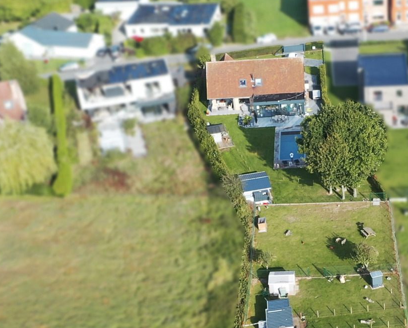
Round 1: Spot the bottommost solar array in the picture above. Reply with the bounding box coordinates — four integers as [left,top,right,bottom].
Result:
[107,51,170,84]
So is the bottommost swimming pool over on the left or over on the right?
right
